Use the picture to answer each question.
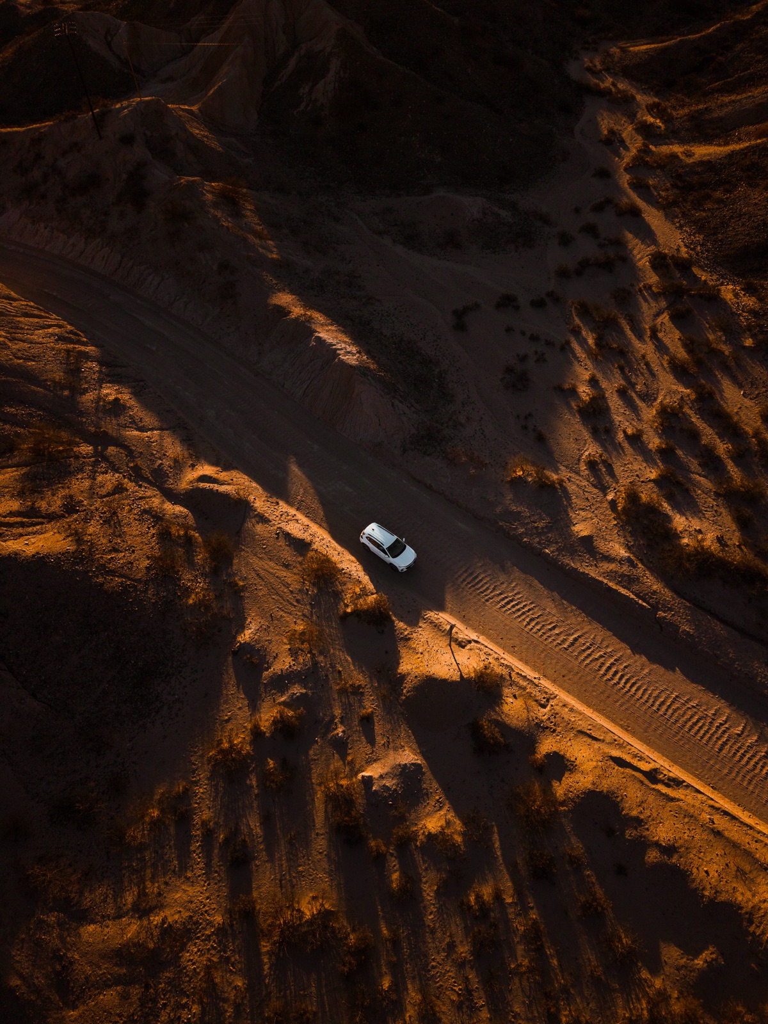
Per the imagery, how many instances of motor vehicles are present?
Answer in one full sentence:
There is 1 motor vehicle in the image.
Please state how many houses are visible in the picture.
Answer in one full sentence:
The count of houses is 0.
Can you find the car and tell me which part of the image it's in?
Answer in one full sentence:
The car sits in the center section of the image.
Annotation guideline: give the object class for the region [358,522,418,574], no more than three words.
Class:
car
